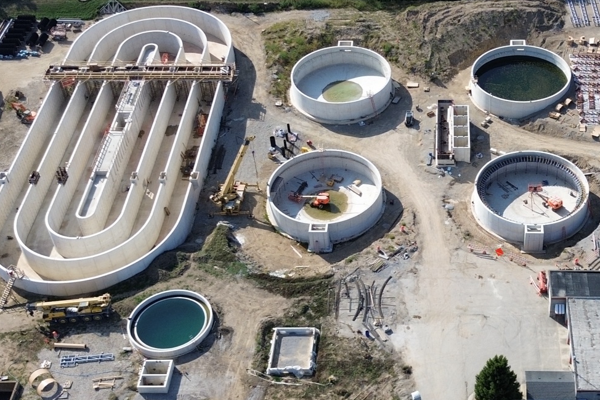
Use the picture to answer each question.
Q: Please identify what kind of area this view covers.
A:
industrial area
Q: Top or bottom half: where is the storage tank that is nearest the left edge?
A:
bottom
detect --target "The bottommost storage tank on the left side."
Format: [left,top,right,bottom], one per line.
[127,289,217,361]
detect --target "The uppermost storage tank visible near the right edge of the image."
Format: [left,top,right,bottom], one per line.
[466,42,575,125]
